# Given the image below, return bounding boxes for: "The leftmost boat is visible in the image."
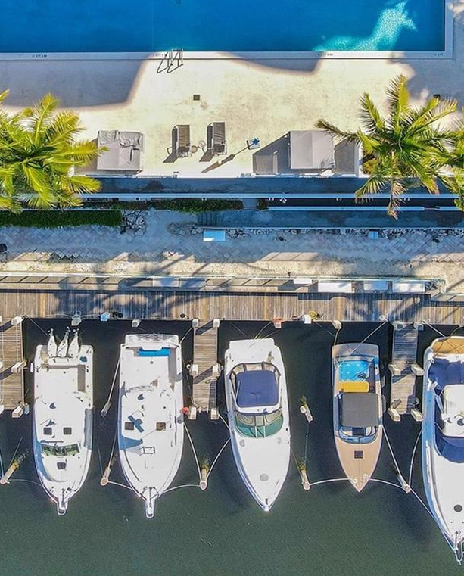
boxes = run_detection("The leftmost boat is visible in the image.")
[30,330,95,516]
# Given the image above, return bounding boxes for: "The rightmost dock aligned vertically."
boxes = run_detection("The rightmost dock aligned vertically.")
[391,324,419,413]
